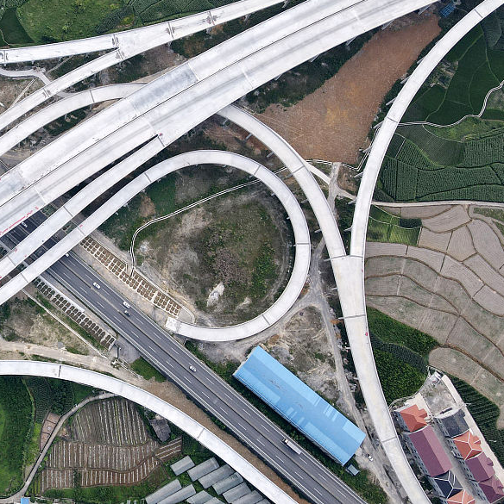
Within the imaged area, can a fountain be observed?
No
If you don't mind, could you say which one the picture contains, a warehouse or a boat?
warehouse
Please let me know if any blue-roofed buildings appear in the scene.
Yes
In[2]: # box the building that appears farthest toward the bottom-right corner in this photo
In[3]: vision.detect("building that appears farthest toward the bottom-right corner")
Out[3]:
[469,476,504,503]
